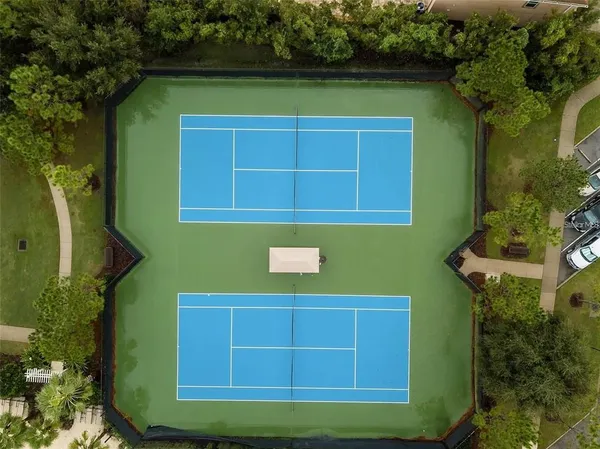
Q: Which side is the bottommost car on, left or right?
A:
right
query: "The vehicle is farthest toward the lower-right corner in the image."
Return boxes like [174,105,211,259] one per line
[563,227,600,269]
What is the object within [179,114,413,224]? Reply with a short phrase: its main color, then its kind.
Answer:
blue tennis court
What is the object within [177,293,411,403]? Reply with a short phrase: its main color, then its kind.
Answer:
blue tennis court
